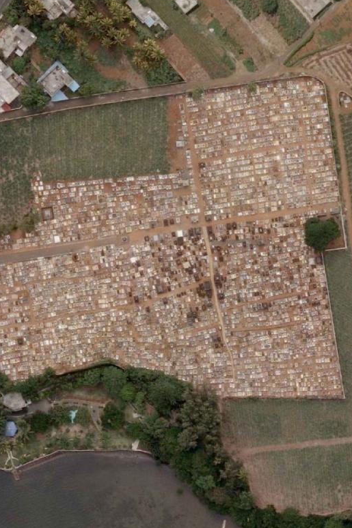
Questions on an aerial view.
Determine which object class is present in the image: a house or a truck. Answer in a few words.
house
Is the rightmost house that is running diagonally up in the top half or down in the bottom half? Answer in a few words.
top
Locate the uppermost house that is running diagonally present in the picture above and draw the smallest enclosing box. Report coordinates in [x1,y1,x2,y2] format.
[125,0,168,29]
